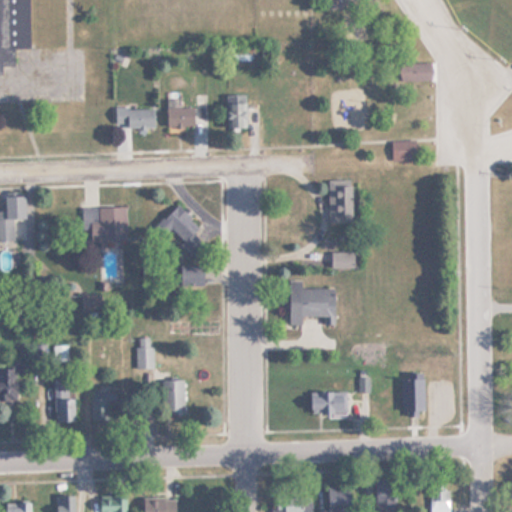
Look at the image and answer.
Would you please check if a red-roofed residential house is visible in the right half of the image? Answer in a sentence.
No, looking in the right half of the image, there is no red-roofed residential house.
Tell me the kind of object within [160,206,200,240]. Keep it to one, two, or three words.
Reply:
house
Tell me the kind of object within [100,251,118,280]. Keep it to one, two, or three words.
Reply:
swimming pool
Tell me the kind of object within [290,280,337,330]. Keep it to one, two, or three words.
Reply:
house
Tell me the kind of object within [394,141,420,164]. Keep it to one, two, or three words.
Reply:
building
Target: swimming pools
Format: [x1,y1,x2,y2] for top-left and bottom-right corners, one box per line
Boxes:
[0,248,14,272]
[100,251,118,280]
